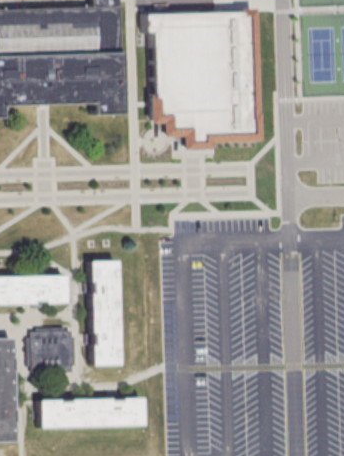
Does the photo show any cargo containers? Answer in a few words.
No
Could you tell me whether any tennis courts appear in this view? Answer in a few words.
Yes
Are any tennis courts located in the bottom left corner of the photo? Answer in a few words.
No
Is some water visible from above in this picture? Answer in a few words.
No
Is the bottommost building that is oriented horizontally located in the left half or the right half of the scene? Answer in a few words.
left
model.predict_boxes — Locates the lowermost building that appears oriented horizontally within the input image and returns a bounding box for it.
[37,396,148,430]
